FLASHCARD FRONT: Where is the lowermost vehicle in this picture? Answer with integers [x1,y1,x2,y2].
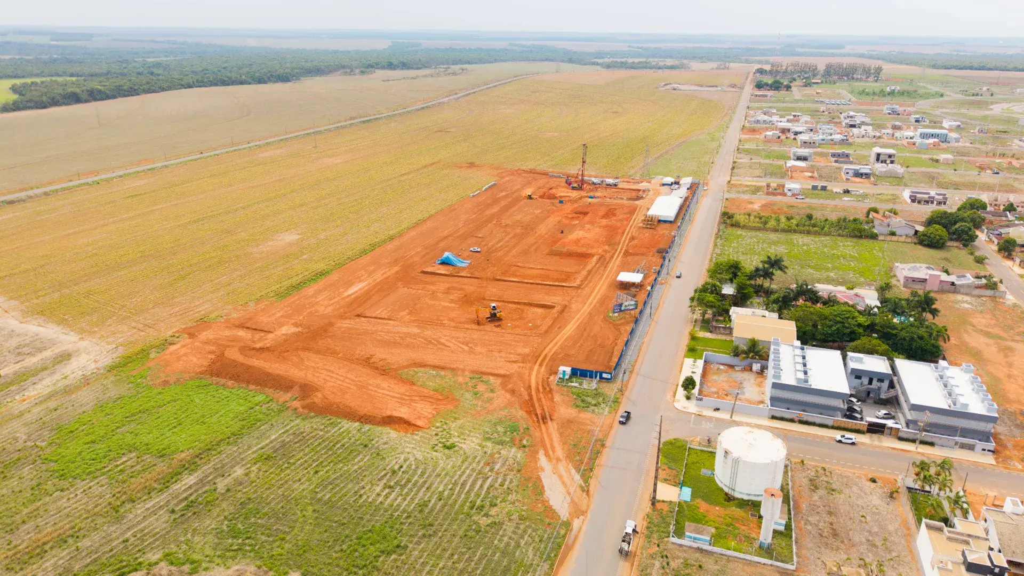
[617,515,645,556]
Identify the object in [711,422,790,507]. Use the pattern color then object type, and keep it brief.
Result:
white water tank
